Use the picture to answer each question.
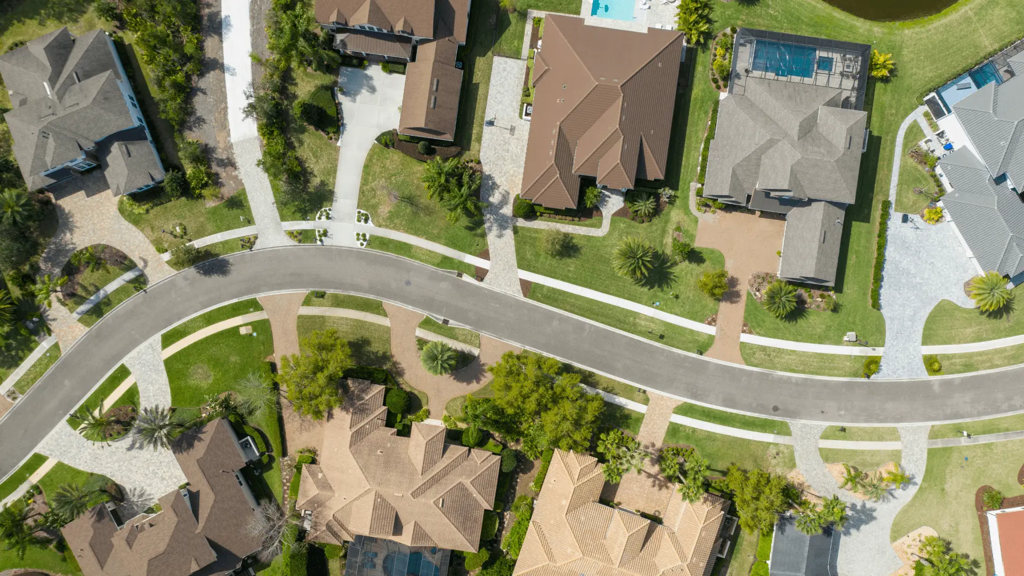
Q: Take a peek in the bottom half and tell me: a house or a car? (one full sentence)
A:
Visible in the bottom half is a house.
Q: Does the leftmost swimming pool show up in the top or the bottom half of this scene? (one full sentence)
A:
You can find the leftmost swimming pool in the bottom half.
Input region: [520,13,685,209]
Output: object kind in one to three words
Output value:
house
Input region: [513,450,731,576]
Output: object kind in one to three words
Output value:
house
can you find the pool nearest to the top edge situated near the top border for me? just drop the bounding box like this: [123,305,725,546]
[588,0,637,23]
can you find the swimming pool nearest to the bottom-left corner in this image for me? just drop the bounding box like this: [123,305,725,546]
[381,552,442,576]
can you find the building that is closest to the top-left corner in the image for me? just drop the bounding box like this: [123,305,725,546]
[0,27,168,197]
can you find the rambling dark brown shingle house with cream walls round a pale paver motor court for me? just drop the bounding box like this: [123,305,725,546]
[60,416,265,576]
